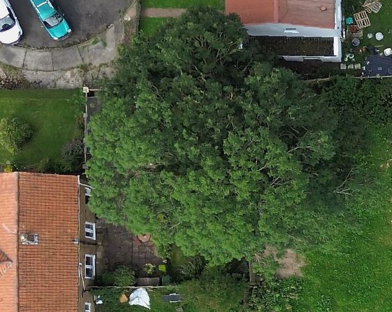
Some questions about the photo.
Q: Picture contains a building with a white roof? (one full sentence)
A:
No, there's no building with a white roof here.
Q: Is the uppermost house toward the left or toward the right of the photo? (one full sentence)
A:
You can find the uppermost house on the right side of the picture.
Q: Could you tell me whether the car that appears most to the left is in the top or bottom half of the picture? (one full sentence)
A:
The car that appears most to the left sits in the top half of the picture.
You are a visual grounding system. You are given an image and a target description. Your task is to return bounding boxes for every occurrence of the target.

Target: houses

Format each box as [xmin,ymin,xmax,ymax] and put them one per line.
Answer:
[224,0,348,64]
[0,168,97,288]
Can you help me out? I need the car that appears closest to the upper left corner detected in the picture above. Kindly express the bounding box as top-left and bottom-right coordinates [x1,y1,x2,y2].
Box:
[0,0,24,45]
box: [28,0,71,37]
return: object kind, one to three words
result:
van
